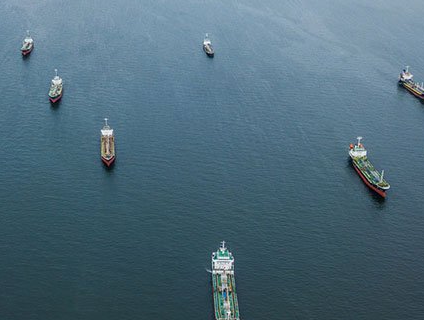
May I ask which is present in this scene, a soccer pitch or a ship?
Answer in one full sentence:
This aerial view contains a ship.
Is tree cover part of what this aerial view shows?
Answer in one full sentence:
No, the picture contains no tree cover.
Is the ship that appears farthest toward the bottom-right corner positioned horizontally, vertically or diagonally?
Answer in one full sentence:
Seen from above, the ship that appears farthest toward the bottom-right corner lies diagonally.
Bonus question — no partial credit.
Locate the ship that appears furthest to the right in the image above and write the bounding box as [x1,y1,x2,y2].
[397,68,424,101]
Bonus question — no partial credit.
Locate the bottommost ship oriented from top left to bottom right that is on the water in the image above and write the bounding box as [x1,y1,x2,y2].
[344,138,392,196]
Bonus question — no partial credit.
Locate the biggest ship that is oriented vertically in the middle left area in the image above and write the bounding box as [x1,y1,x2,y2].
[101,117,115,167]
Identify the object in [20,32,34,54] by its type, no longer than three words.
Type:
ship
